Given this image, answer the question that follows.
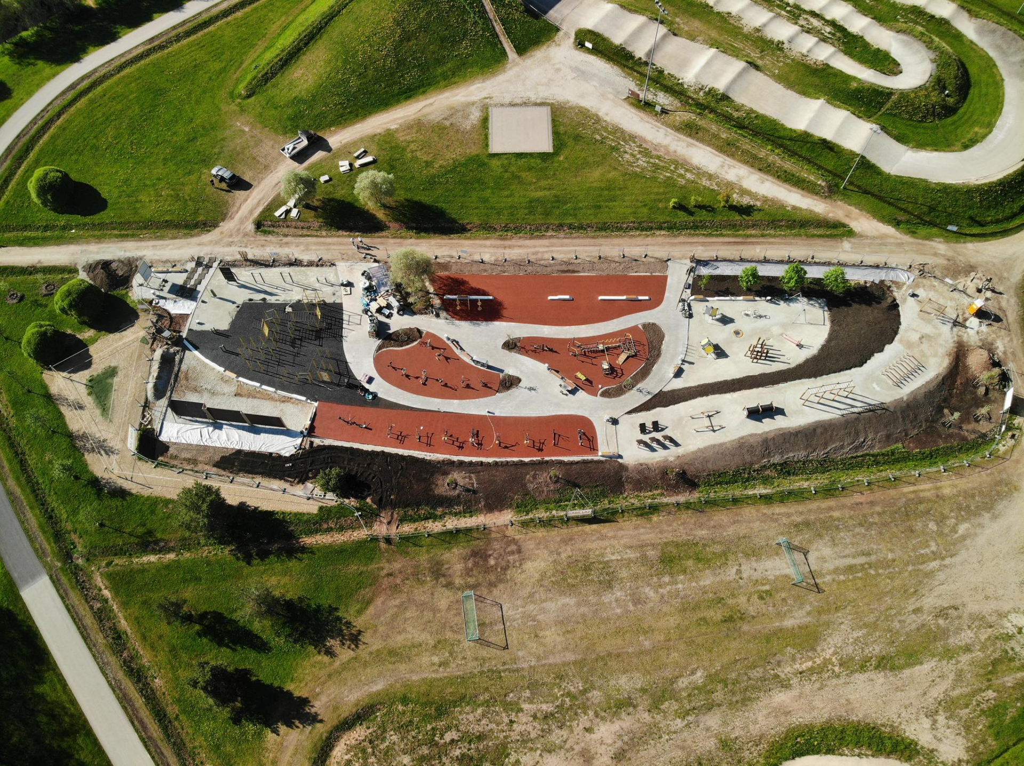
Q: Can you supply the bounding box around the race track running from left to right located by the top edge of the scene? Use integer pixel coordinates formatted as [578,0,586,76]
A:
[548,0,1024,178]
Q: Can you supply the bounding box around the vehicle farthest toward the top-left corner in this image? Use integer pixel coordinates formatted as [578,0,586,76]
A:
[210,169,240,188]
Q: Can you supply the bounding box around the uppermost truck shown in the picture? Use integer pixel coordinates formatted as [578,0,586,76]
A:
[282,130,320,159]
